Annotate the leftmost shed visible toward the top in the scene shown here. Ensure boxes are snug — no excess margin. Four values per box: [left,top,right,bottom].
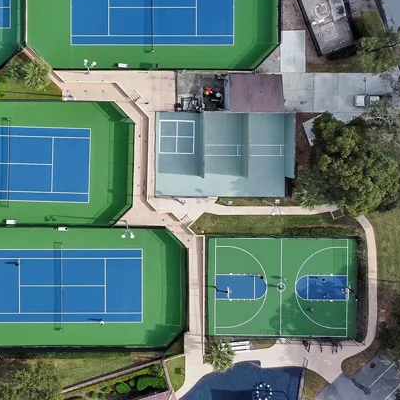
[223,73,285,112]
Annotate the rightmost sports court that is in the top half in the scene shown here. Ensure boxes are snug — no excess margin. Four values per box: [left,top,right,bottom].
[155,109,297,198]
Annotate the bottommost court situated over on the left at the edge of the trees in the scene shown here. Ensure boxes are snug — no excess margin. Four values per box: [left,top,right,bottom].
[0,226,186,346]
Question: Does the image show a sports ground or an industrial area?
sports ground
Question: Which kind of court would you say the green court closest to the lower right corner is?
basketball court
